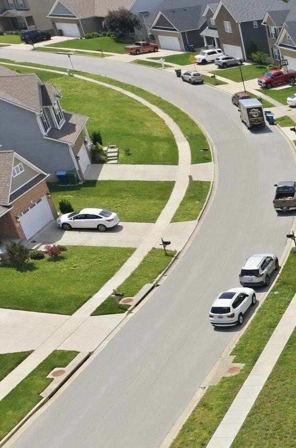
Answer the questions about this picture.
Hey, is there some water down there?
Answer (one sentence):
No, the scene doesn't show any water.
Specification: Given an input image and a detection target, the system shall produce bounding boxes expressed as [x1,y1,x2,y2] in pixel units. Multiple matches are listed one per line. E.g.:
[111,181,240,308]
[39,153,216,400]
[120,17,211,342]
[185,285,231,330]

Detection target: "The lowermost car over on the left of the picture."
[58,207,120,230]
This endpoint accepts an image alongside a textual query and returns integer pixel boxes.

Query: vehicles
[196,46,226,63]
[256,70,296,88]
[207,287,257,326]
[274,179,296,210]
[124,40,160,54]
[181,68,201,81]
[20,29,47,41]
[58,207,120,230]
[240,253,278,287]
[284,93,296,105]
[211,53,244,67]
[238,89,264,124]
